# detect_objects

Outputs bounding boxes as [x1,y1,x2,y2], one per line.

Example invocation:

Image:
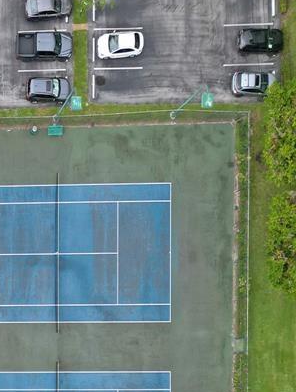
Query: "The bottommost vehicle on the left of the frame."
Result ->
[24,74,71,106]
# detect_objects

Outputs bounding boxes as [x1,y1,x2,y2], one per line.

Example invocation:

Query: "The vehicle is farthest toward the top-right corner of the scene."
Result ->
[232,25,282,57]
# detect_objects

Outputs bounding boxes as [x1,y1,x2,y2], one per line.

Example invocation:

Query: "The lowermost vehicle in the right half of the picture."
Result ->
[229,68,279,100]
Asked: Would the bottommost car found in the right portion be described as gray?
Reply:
Yes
